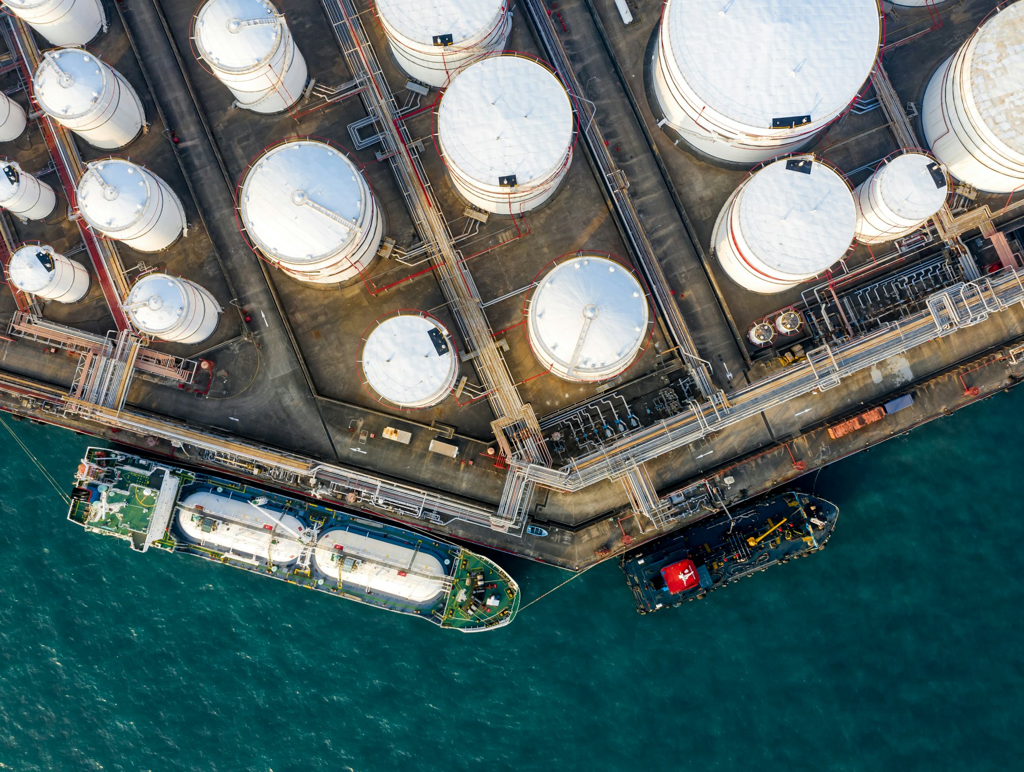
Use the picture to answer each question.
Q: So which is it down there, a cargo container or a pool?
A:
cargo container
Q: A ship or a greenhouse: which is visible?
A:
ship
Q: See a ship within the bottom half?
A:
Yes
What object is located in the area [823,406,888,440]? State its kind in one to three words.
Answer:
shipping container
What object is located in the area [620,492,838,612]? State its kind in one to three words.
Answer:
ship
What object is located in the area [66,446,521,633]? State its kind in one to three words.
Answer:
ship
